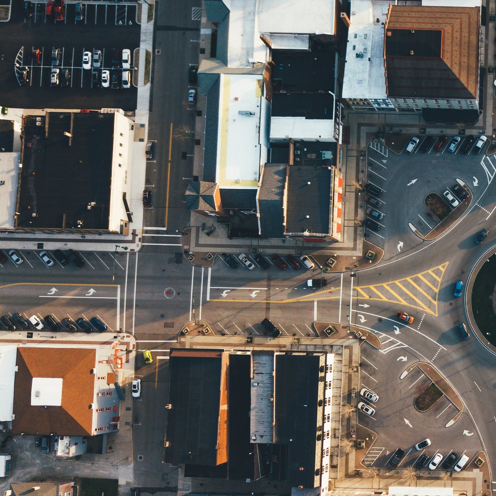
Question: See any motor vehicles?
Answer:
Yes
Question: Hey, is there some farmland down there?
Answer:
No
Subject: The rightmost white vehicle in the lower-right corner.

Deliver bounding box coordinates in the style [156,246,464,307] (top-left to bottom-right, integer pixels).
[453,451,471,475]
